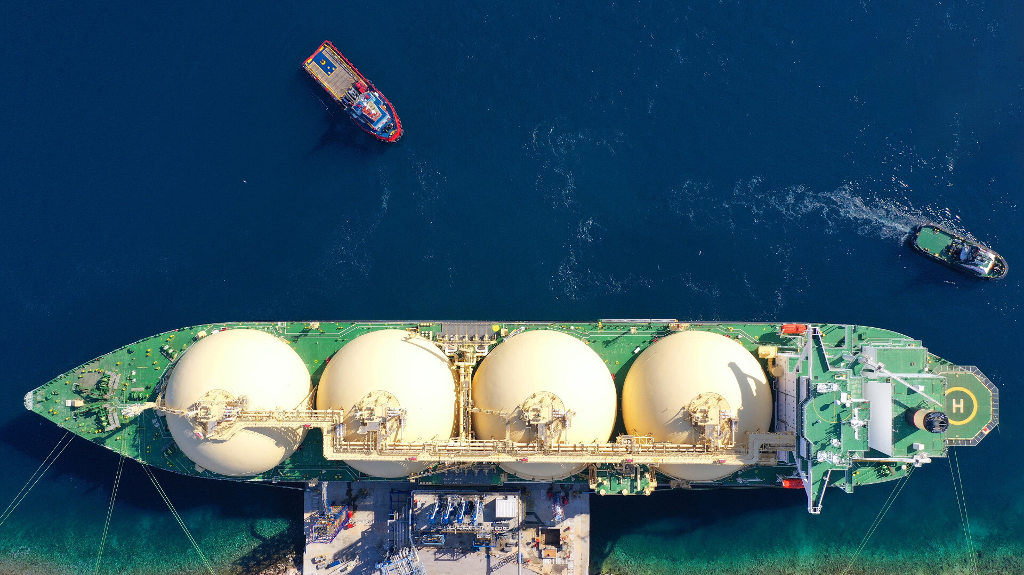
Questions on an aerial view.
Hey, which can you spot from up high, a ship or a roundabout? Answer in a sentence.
The image shows a ship.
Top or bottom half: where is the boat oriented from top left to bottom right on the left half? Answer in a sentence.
The boat oriented from top left to bottom right on the left half is in the top half of the image.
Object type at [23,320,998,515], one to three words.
ship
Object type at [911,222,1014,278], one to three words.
boat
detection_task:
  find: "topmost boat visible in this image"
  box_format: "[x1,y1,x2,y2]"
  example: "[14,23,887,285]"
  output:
[299,37,400,139]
